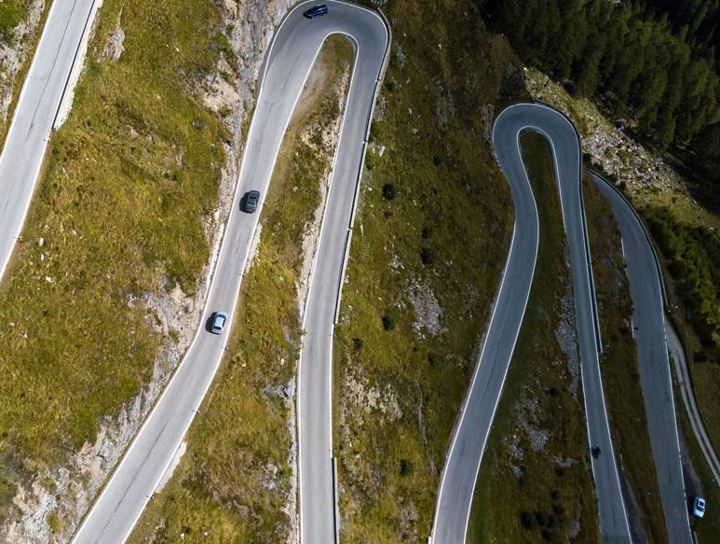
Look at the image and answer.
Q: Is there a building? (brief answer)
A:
No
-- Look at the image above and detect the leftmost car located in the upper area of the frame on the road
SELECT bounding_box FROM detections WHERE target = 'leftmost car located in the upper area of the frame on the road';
[242,191,257,212]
